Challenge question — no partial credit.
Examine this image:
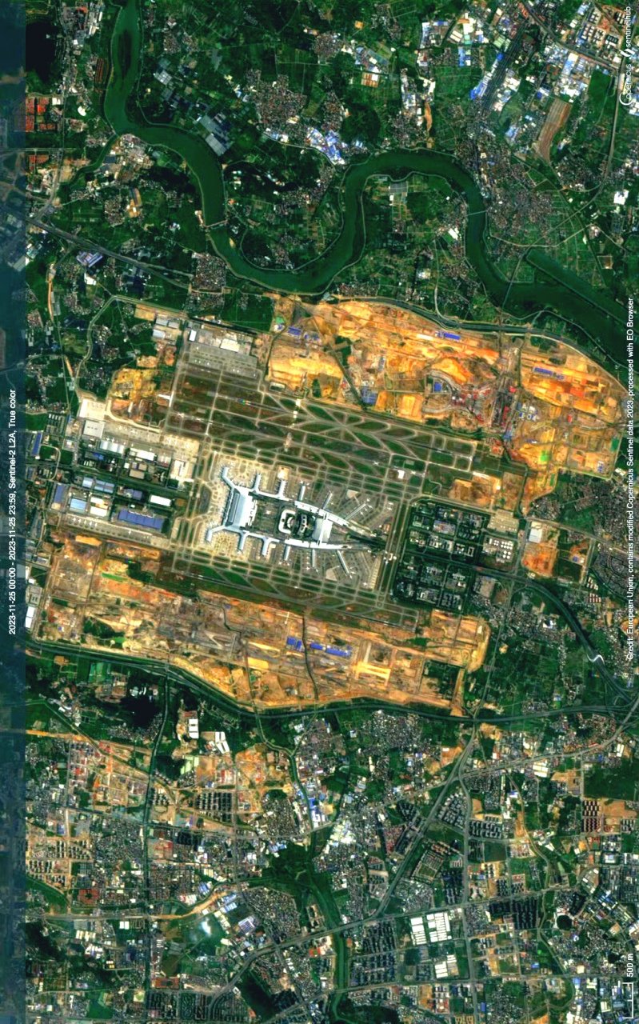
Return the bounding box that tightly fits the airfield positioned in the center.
[66,342,477,632]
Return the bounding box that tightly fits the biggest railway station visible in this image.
[481,21,530,112]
